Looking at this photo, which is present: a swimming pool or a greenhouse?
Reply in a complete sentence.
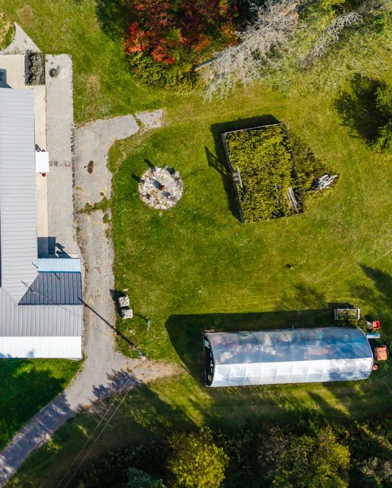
There is a greenhouse in the scene.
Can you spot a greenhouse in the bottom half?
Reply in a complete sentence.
Yes, a greenhouse appears in the bottom half.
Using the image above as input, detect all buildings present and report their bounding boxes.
[0,86,82,360]
[205,326,373,389]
